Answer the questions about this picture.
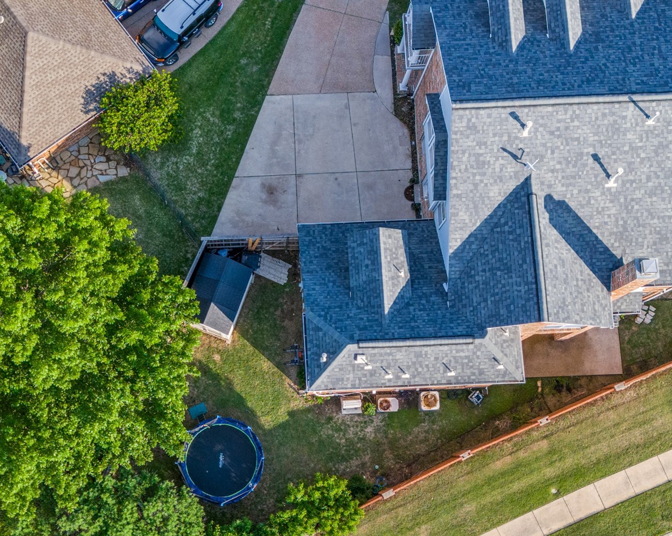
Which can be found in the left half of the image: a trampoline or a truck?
trampoline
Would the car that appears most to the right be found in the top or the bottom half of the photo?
top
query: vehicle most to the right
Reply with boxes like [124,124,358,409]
[136,0,225,69]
